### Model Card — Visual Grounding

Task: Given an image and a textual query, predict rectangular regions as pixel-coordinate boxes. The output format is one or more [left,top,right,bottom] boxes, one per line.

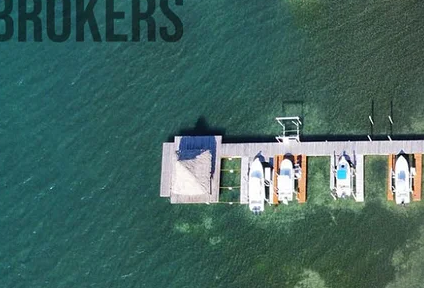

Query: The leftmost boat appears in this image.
[250,158,265,215]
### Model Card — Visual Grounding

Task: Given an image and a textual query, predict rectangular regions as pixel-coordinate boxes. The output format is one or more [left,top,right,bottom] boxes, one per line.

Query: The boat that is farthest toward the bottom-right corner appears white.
[395,156,410,207]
